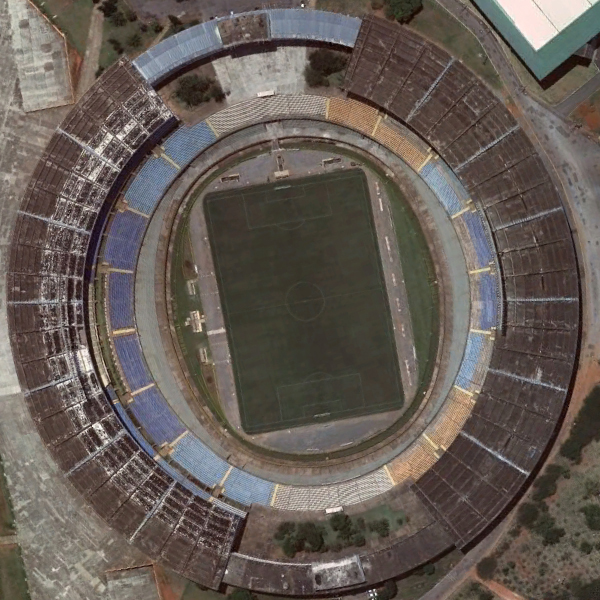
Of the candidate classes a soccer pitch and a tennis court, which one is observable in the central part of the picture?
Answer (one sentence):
The feature located in the central part of the picture is a soccer pitch.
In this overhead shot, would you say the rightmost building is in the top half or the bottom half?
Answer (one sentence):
You can find the rightmost building in the top half.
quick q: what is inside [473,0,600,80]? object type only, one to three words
building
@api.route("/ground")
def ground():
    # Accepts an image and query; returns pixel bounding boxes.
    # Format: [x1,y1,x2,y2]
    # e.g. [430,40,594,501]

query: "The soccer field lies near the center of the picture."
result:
[206,169,403,432]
